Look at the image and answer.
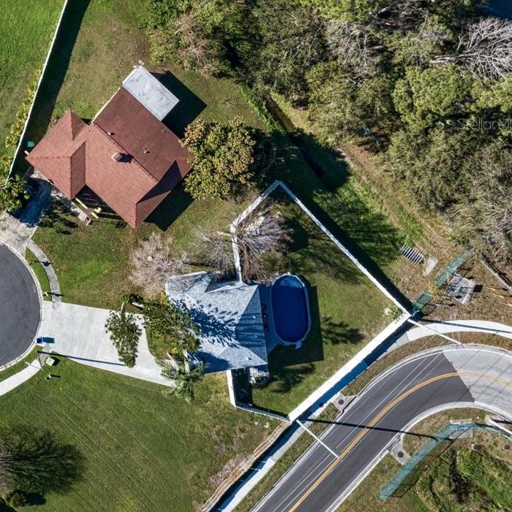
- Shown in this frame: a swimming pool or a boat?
swimming pool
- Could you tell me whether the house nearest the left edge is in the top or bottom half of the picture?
top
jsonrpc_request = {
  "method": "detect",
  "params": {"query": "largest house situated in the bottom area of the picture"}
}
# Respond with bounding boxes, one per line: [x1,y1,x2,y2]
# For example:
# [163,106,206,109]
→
[160,270,269,374]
